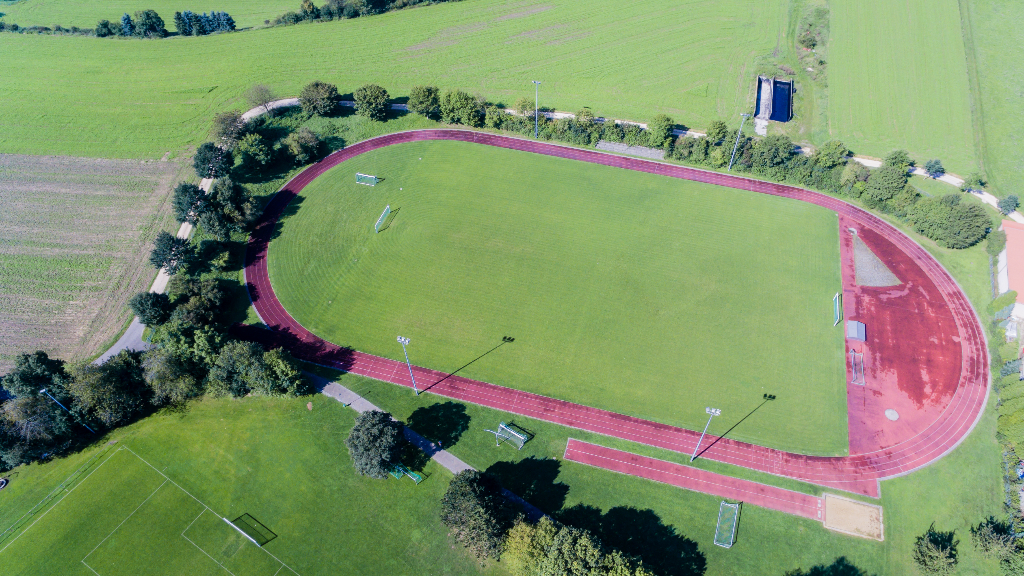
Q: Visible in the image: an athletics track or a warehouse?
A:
athletics track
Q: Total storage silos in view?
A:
1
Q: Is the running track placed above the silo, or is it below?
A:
below it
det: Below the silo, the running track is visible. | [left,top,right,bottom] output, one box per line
[246,130,989,481]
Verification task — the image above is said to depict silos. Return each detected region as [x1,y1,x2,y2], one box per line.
[739,74,792,122]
